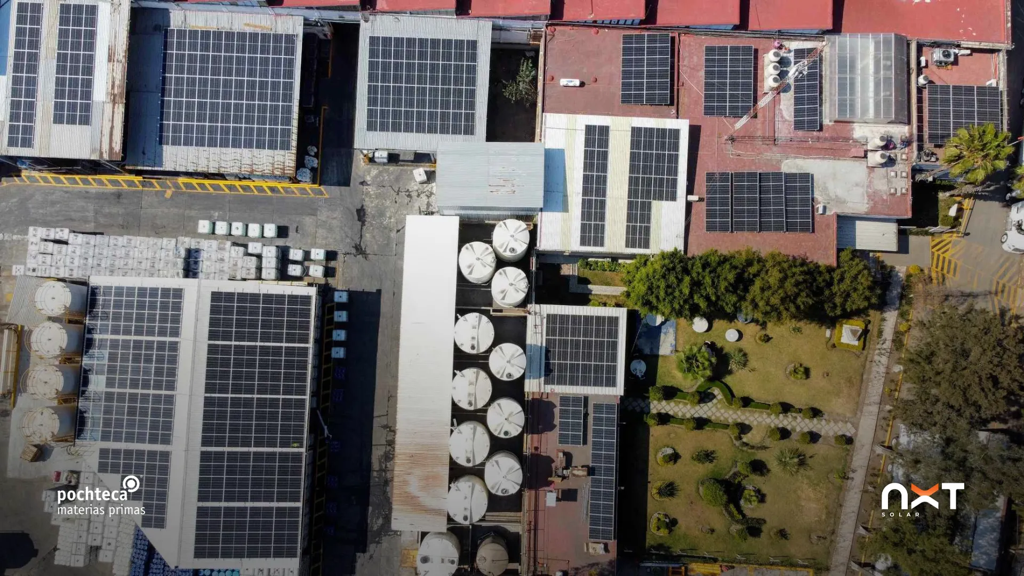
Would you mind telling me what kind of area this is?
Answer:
industrial area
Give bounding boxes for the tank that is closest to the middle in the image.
[492,267,529,307]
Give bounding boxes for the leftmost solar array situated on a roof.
[8,2,43,148]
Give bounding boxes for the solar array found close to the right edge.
[926,84,1000,145]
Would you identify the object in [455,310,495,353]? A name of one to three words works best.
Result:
storage tank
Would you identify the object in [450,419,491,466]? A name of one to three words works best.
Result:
storage tank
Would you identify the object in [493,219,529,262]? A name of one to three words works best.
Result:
water tank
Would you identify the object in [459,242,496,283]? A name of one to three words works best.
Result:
water tank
